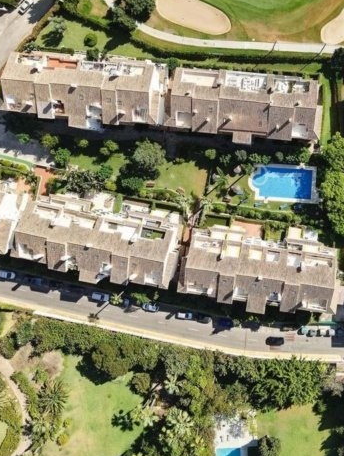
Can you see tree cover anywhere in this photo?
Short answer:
Yes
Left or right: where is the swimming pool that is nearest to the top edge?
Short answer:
right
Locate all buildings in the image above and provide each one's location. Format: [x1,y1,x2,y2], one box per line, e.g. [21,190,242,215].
[0,52,170,134]
[10,195,185,289]
[162,66,322,153]
[179,224,344,315]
